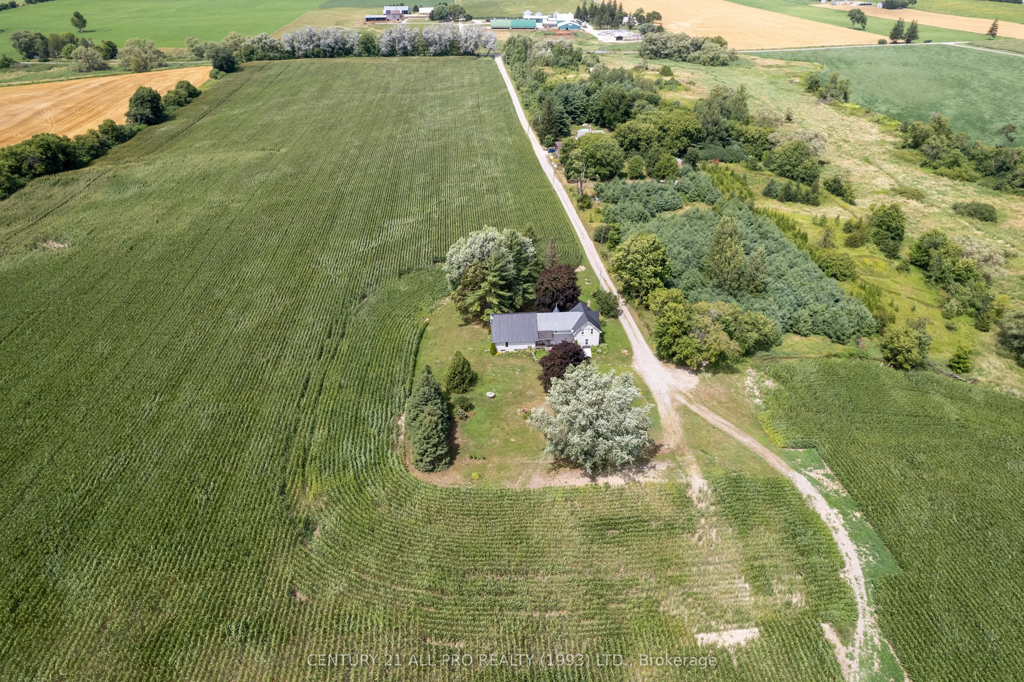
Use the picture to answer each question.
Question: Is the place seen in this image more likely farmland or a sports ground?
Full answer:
It's farmland.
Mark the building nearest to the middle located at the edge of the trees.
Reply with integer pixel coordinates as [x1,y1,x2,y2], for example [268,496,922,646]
[489,299,603,351]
